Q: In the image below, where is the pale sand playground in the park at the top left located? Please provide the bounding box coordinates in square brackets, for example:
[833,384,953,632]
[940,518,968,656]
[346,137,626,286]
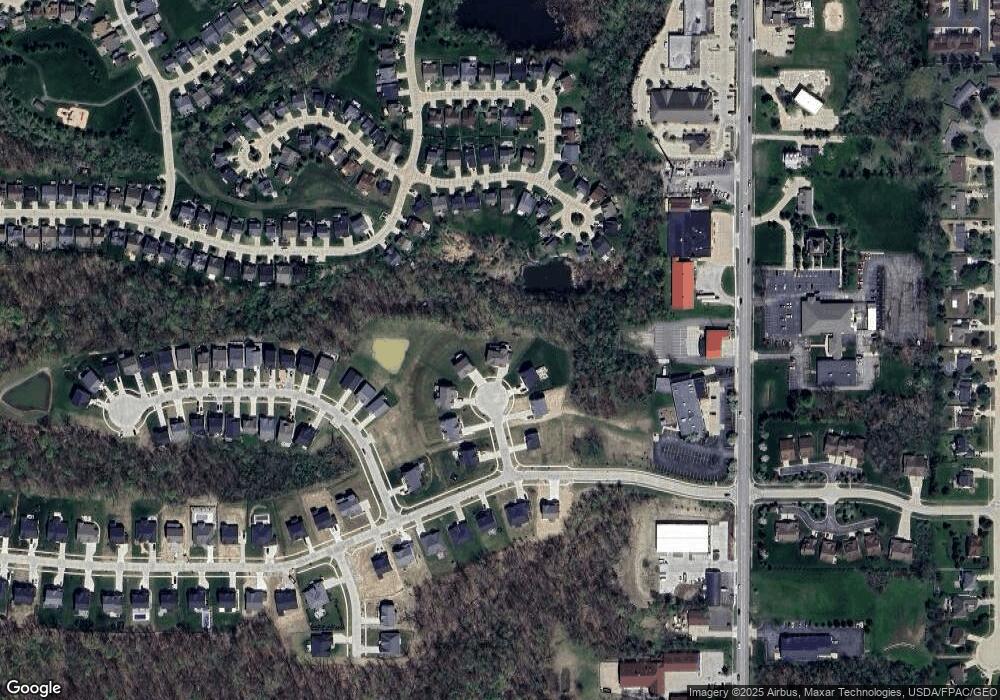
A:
[57,106,89,128]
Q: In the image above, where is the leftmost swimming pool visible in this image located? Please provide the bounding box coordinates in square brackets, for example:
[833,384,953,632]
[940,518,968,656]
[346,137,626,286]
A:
[134,608,148,621]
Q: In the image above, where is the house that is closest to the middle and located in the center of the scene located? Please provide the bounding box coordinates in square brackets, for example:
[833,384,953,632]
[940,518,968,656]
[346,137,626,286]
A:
[486,343,510,367]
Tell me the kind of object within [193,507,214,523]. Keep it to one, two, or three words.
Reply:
swimming pool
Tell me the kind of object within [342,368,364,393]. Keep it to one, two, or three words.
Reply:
house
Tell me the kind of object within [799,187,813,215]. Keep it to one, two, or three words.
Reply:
building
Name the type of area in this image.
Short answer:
residential area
